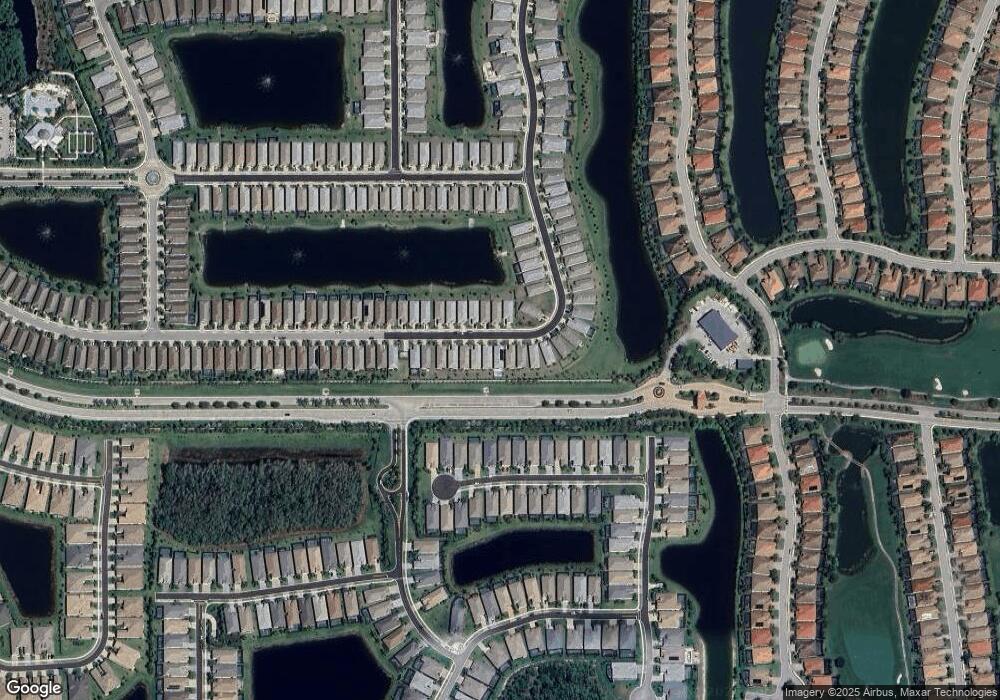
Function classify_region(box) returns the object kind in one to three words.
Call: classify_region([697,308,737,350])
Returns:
building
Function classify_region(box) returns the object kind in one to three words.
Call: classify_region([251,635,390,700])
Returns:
pond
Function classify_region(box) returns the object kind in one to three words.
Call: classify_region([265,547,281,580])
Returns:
house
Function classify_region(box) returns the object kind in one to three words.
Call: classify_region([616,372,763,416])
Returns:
roundabout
